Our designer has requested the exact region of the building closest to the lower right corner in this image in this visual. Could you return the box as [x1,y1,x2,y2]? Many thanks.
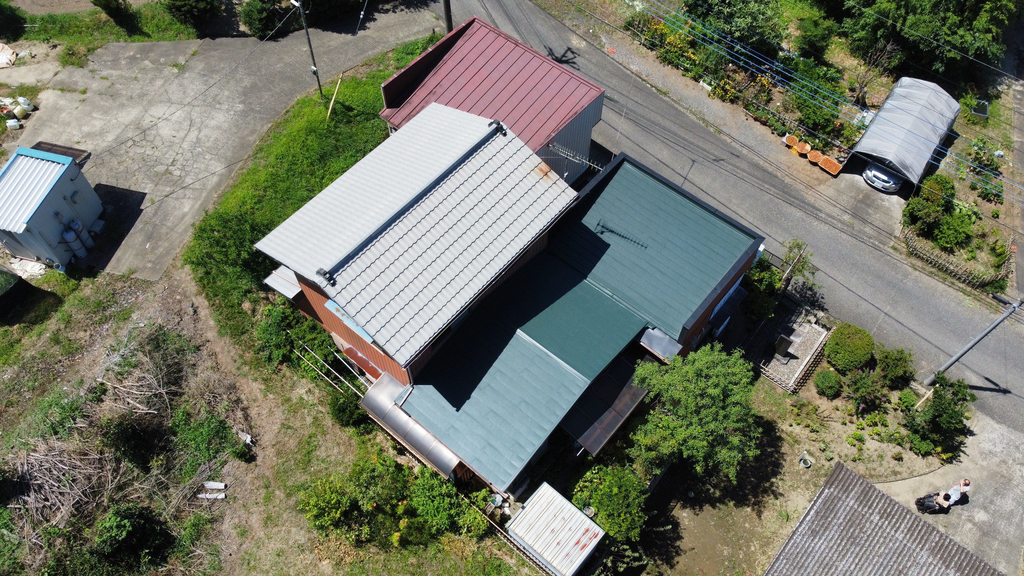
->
[760,458,1010,576]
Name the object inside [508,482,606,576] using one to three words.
shed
